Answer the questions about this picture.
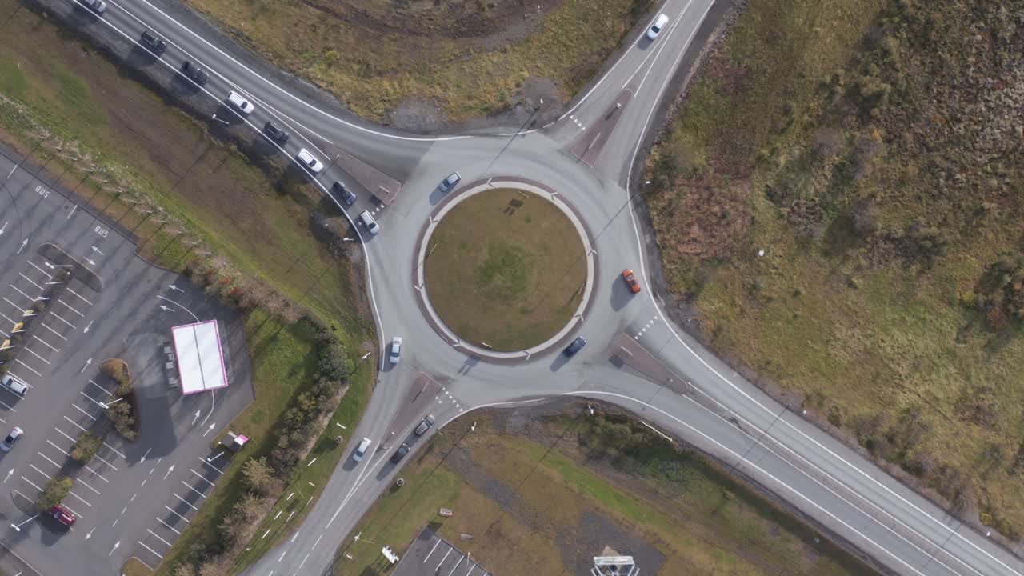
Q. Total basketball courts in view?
0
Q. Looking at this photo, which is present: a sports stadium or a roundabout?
roundabout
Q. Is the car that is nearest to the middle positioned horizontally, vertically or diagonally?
diagonally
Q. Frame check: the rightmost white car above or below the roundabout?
above it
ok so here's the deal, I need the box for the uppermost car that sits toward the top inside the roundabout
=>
[439,171,461,192]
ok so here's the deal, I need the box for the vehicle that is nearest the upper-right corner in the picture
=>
[647,12,669,41]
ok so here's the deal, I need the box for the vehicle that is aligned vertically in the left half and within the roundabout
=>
[389,337,403,364]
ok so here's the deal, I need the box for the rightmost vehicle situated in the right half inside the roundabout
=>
[622,268,640,294]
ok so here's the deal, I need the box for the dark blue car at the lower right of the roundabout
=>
[563,336,585,358]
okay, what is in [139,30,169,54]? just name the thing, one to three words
car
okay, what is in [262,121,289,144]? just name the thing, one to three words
car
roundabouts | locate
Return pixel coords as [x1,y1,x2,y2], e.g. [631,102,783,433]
[357,118,659,412]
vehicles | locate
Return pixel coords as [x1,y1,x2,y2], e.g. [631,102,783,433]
[333,180,357,205]
[622,268,640,294]
[389,442,411,465]
[181,61,210,85]
[389,337,403,364]
[359,209,381,235]
[647,12,669,41]
[50,507,78,527]
[413,412,437,437]
[262,121,289,144]
[439,171,461,192]
[563,336,585,358]
[353,435,373,462]
[297,149,323,172]
[81,0,109,14]
[139,30,169,54]
[2,374,30,395]
[226,90,255,114]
